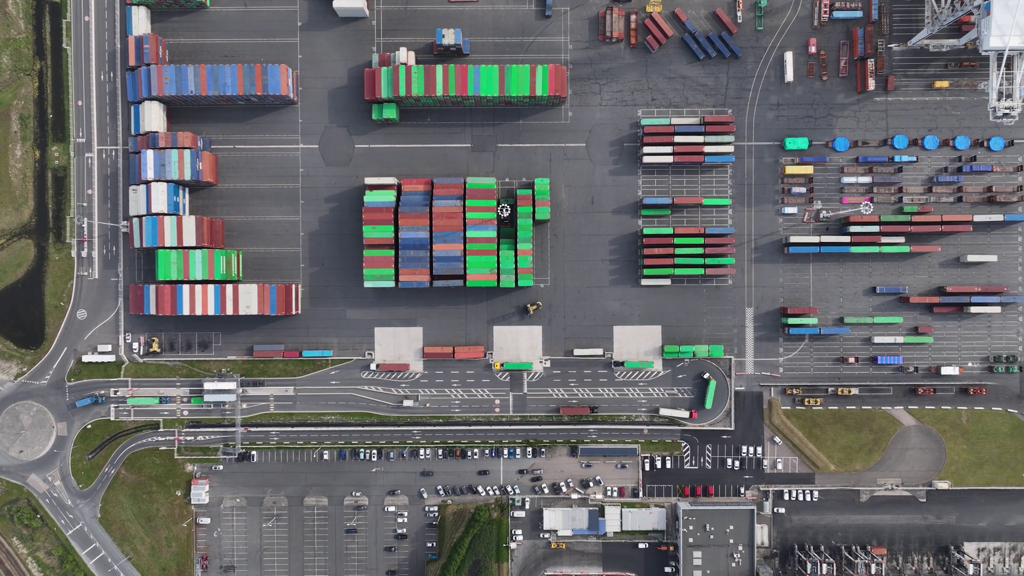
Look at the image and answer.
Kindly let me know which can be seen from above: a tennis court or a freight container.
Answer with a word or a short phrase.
freight container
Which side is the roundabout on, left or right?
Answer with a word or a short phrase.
left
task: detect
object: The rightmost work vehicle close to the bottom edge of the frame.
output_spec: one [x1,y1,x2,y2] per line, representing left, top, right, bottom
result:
[951,546,986,576]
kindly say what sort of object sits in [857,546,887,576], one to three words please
work vehicle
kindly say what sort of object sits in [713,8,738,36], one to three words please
shipping container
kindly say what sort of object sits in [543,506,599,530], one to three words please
building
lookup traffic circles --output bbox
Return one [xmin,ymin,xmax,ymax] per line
[0,376,80,485]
